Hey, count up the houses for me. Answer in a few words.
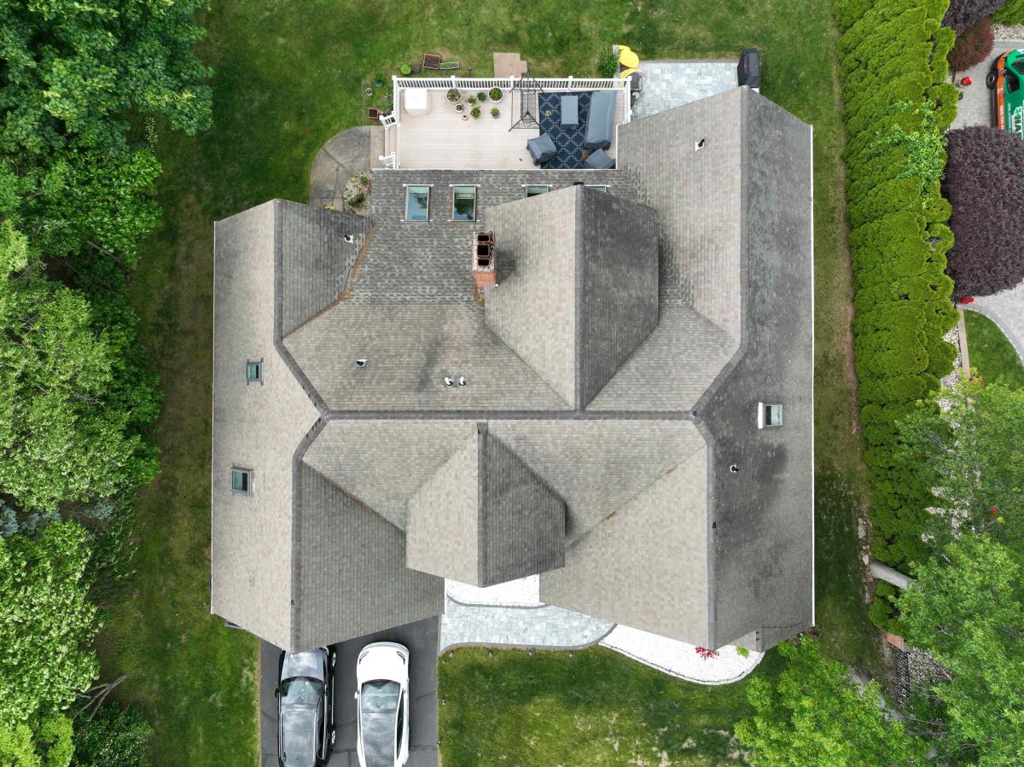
1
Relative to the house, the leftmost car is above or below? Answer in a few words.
below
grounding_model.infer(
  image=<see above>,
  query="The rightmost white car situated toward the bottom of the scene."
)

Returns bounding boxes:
[352,637,411,767]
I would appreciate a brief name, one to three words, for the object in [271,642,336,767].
car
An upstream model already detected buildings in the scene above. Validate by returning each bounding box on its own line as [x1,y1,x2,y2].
[209,86,817,652]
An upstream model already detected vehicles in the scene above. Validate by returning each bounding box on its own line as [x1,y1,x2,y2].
[352,637,411,767]
[985,50,1024,168]
[271,642,336,767]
